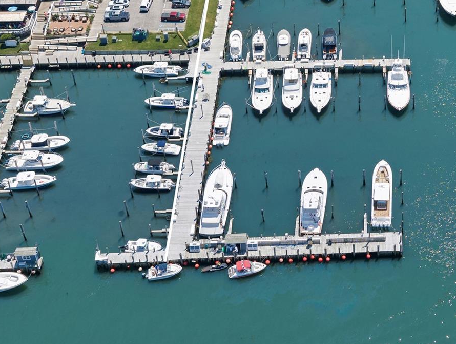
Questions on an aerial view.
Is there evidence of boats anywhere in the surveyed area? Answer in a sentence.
Yes, a boat is visible in the scene.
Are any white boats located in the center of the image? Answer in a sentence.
Yes, a white boat is visible in the center of the image.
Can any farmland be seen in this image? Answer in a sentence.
No, the scene doesn't show any farmland.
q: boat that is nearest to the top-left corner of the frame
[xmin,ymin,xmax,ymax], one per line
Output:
[24,95,79,118]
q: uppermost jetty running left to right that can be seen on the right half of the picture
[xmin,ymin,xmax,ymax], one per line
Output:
[221,46,410,92]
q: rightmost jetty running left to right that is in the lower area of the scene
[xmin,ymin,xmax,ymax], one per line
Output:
[96,209,403,268]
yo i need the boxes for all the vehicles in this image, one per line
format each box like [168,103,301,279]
[103,10,130,22]
[161,11,186,23]
[170,0,192,8]
[105,3,126,13]
[137,0,155,11]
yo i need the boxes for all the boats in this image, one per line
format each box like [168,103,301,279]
[120,228,162,256]
[0,164,56,195]
[142,264,181,284]
[277,65,302,112]
[247,54,274,113]
[273,28,291,61]
[317,28,337,60]
[146,121,185,141]
[201,263,229,274]
[193,157,233,237]
[141,141,181,157]
[251,28,272,62]
[229,260,266,281]
[230,30,248,62]
[367,159,402,228]
[24,95,79,118]
[309,68,332,112]
[0,275,27,294]
[135,155,177,178]
[295,28,318,60]
[15,127,70,156]
[299,169,332,234]
[131,166,177,193]
[2,147,64,175]
[146,89,189,110]
[134,63,182,87]
[212,105,233,150]
[386,48,411,111]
